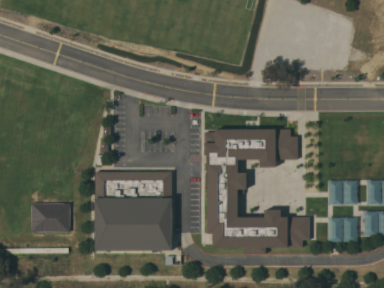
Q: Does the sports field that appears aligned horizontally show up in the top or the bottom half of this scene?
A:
top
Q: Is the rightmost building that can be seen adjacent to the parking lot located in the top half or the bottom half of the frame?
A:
bottom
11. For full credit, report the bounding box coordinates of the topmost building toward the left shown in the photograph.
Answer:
[94,170,172,198]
